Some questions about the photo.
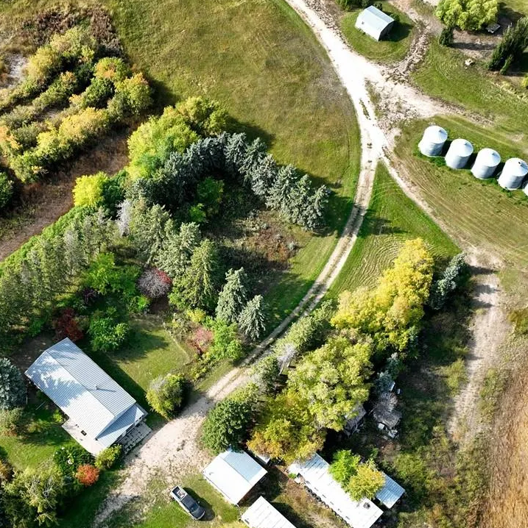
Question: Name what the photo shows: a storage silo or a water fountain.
storage silo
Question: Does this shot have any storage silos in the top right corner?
Yes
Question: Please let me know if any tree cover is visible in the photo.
Yes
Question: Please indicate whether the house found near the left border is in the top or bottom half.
bottom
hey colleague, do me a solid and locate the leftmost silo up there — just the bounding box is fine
[418,124,447,158]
